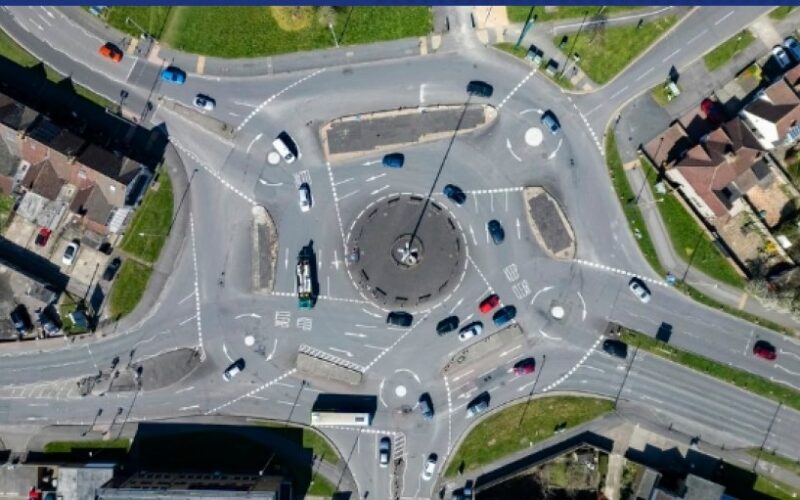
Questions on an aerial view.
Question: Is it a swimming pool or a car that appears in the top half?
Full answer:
The one visible in the top half is a car.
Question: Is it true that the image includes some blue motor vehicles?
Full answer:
Yes, there is a blue motor vehicle in the image.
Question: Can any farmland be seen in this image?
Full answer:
No, the scene doesn't show any farmland.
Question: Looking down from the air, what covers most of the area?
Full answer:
For the most part, this view shows paved ground.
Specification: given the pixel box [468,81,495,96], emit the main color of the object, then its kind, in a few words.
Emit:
black car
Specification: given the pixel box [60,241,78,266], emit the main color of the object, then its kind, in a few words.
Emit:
white car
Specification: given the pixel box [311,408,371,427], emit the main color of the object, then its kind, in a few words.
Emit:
white vehicle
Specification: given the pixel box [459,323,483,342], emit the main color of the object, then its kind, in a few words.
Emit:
white car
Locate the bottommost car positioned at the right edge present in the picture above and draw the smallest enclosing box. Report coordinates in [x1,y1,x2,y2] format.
[754,345,780,360]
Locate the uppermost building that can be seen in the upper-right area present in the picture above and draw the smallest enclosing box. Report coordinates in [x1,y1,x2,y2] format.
[743,53,800,148]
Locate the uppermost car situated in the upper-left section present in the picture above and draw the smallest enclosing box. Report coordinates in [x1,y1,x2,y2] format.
[97,42,122,61]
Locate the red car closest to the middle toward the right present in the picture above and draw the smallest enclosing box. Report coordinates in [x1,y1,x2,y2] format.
[479,295,501,314]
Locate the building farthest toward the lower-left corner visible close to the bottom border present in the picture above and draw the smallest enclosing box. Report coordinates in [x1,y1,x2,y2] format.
[52,464,120,500]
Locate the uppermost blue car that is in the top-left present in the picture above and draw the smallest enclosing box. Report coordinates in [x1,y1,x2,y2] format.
[160,69,184,84]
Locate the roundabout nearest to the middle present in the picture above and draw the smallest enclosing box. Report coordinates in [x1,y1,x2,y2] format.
[345,190,468,312]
